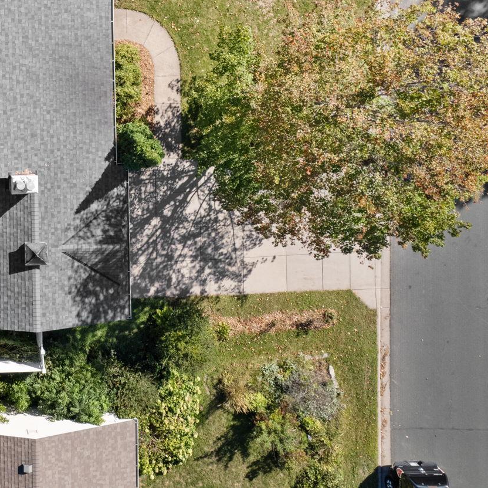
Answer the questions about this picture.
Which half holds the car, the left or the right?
right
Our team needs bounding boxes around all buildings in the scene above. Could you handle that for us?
[0,407,141,488]
[0,0,134,332]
